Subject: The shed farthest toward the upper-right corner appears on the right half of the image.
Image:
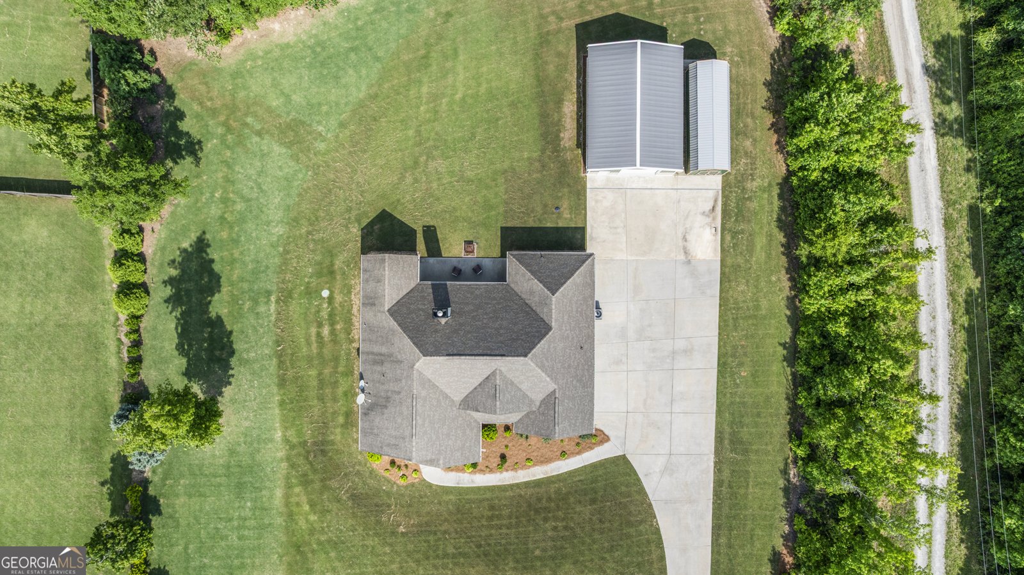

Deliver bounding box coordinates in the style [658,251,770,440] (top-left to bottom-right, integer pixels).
[685,59,730,174]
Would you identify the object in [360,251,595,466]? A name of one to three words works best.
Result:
house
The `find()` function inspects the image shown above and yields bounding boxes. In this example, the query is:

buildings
[685,59,730,174]
[585,38,684,174]
[360,251,595,466]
